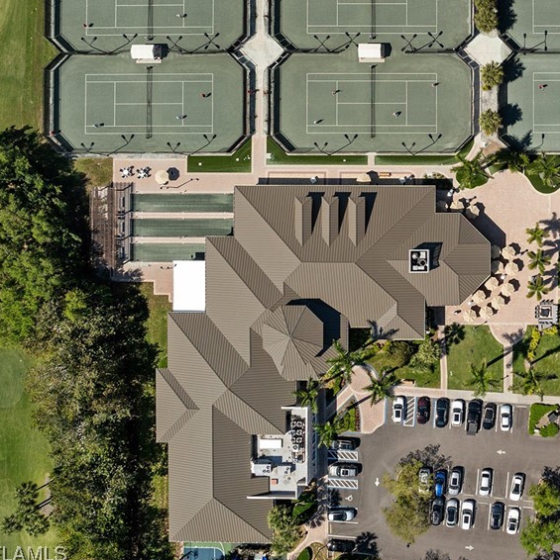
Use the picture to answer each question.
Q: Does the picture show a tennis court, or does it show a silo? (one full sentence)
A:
Looking from above, you can make out a tennis court.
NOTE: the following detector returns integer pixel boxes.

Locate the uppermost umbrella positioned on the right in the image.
[358,171,372,185]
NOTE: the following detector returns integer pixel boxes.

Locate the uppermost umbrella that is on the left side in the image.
[154,169,169,184]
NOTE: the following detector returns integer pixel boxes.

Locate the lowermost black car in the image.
[327,540,353,556]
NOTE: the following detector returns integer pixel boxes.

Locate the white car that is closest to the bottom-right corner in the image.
[507,509,520,537]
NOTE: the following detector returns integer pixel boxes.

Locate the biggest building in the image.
[155,185,491,543]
